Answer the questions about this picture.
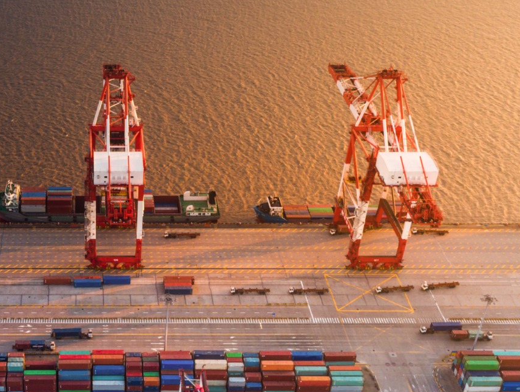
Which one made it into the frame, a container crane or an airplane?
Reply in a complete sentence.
I can see a container crane in this picture.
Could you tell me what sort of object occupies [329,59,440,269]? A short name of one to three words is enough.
container crane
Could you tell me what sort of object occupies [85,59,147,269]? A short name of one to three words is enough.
container crane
